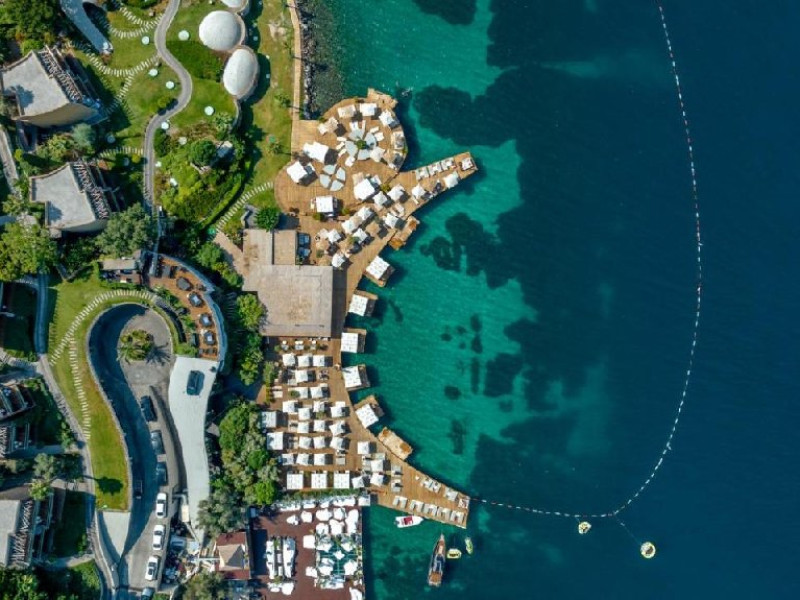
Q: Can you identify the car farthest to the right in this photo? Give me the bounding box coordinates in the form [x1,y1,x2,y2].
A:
[188,370,202,396]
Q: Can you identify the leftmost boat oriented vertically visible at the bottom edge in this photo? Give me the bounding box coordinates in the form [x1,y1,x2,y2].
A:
[427,537,445,589]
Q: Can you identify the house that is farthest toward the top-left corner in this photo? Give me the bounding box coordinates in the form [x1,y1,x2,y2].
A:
[1,42,116,127]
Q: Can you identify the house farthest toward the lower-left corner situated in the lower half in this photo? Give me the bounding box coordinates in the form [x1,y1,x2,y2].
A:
[0,489,60,570]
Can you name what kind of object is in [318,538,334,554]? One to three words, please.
umbrella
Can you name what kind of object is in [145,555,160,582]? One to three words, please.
car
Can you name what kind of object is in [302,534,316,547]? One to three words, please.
umbrella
